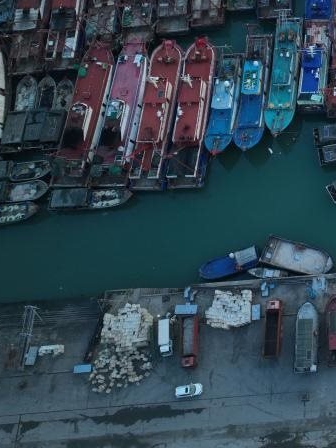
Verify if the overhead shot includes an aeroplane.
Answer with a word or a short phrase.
No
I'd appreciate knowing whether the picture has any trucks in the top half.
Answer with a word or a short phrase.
No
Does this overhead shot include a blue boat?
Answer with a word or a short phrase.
Yes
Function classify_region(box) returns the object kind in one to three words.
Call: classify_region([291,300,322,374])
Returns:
boat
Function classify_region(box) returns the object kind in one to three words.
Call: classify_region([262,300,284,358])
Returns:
truck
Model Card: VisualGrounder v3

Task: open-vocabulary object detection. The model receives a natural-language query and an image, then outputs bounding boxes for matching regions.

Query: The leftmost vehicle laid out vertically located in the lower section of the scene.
[156,314,178,360]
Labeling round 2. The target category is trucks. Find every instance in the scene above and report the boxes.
[177,315,202,370]
[262,300,284,358]
[156,314,178,360]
